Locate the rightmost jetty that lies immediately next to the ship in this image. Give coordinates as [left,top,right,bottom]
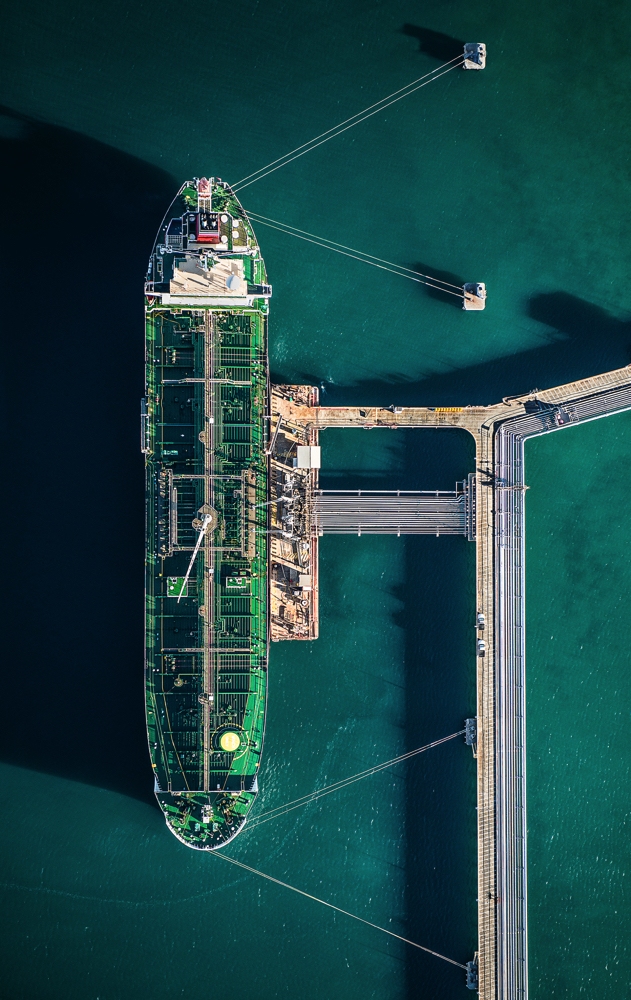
[474,365,631,1000]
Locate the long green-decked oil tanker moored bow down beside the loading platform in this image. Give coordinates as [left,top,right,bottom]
[141,177,272,853]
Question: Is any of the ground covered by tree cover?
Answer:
No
